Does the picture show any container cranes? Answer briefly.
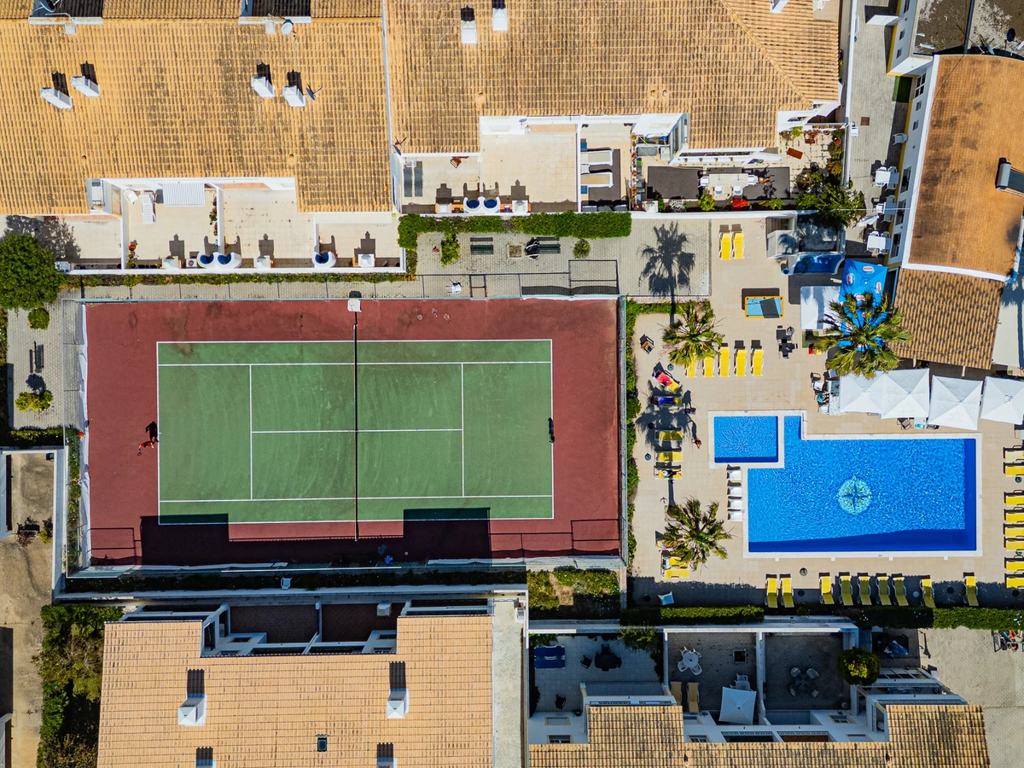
No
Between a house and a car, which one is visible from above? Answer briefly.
house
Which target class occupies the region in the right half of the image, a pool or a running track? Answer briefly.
pool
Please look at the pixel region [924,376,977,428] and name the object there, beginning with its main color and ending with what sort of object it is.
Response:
white umbrella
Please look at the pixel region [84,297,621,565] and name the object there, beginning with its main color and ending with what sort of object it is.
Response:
green tennis court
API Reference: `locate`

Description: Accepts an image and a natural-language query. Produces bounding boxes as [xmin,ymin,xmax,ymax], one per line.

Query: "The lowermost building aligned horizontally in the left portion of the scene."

[89,590,494,768]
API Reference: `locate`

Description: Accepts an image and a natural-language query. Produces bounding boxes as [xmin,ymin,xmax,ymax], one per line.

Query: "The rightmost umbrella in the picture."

[973,373,1024,425]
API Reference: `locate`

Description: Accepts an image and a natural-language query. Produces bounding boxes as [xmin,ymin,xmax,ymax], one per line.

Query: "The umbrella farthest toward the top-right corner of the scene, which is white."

[849,216,881,228]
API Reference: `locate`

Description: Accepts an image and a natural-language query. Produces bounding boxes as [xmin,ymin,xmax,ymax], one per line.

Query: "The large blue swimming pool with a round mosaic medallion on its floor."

[745,411,983,558]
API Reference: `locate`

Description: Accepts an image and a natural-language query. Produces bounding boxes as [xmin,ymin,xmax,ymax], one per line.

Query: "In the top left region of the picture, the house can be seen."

[0,0,400,229]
